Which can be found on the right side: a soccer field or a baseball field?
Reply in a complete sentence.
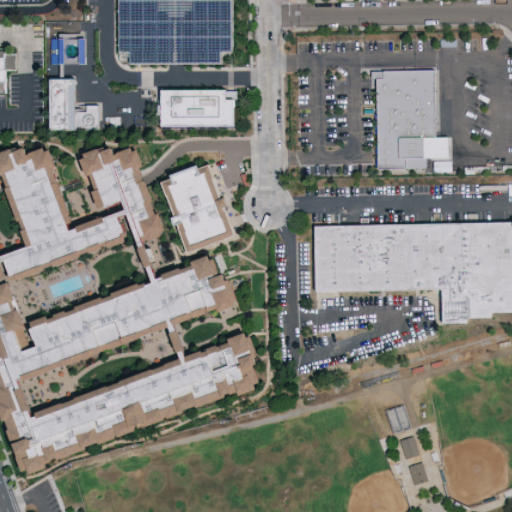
There is a baseball field on the right side.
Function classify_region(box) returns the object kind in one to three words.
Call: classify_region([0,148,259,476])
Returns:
building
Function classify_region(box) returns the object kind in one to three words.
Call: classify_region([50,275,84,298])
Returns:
swimming pool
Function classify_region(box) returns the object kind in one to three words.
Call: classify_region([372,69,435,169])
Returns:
building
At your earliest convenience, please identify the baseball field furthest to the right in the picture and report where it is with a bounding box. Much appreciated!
[442,438,509,504]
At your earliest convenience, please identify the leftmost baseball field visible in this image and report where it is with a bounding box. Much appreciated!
[350,470,408,512]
